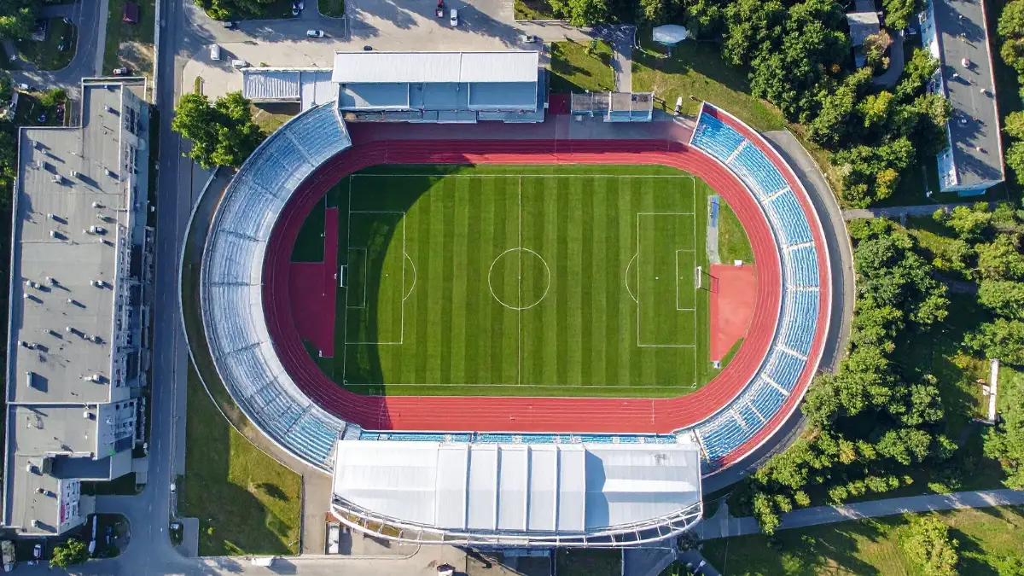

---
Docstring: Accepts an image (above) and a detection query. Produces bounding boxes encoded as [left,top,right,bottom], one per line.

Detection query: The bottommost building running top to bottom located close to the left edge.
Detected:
[3,77,157,535]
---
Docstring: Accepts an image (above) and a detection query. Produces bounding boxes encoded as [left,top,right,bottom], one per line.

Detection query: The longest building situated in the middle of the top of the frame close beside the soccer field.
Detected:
[331,51,550,126]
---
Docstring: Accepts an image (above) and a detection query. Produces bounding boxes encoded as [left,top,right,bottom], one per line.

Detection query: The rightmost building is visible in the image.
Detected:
[911,0,1005,197]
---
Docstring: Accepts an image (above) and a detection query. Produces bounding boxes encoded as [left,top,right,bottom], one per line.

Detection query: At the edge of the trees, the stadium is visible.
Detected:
[201,100,831,546]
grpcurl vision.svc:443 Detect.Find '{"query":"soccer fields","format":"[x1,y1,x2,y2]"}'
[288,163,757,396]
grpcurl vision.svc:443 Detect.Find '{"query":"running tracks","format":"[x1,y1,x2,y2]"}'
[263,119,781,431]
